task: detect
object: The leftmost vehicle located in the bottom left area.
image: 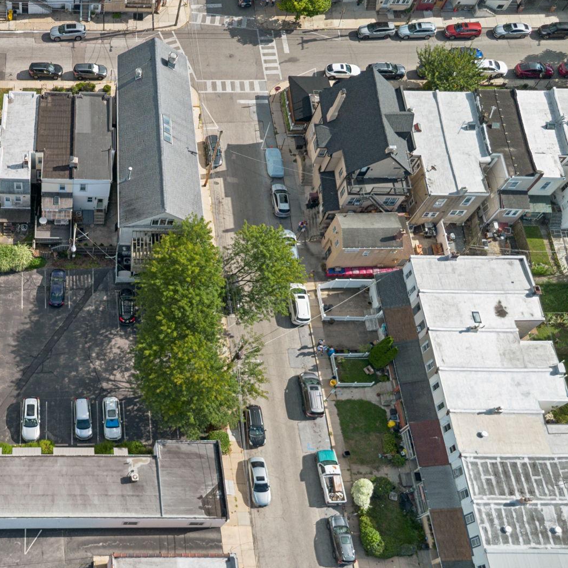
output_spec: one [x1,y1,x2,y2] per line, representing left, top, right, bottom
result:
[19,398,41,440]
